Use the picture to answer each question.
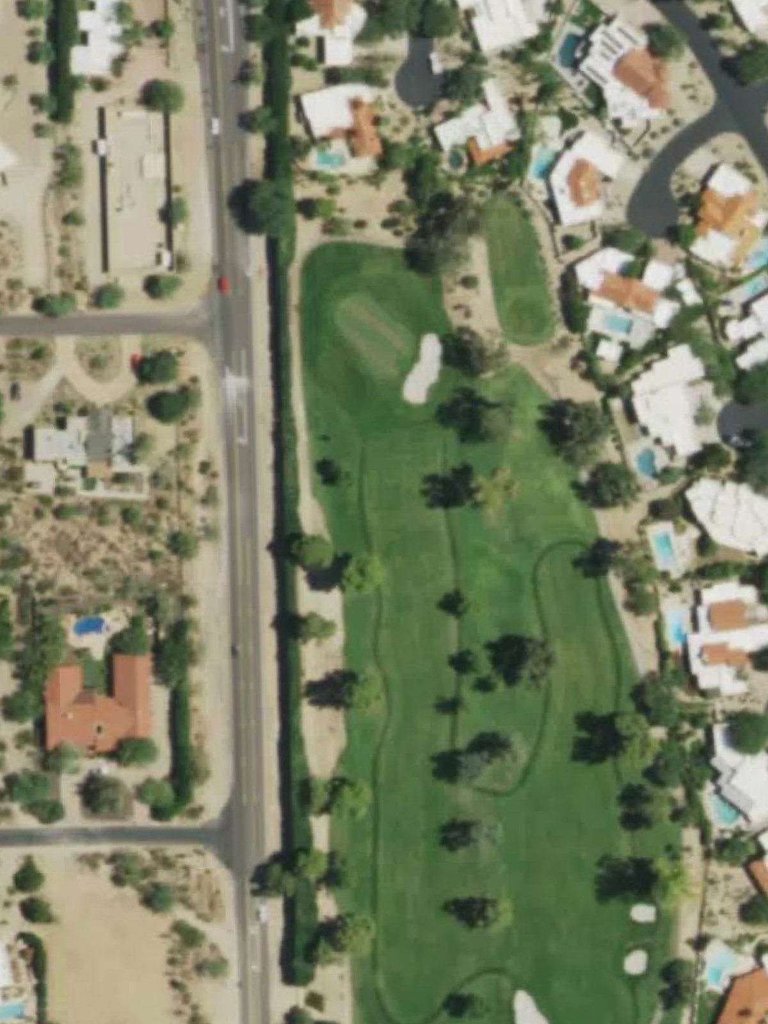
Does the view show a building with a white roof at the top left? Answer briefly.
Yes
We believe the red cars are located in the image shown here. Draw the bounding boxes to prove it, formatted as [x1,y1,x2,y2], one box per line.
[131,355,139,370]
[219,276,227,293]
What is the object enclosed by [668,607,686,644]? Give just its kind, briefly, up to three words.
swimming pool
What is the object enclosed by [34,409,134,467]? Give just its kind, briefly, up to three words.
house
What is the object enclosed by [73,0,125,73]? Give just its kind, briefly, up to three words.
house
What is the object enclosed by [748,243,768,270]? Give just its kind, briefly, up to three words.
swimming pool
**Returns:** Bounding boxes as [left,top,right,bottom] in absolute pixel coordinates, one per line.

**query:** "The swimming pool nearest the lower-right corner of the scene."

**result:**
[705,947,737,986]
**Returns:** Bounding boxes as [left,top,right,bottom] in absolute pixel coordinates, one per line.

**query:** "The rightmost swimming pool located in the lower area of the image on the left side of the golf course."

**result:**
[73,615,106,637]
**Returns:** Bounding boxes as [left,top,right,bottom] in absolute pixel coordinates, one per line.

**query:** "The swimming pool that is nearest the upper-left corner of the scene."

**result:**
[316,152,344,166]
